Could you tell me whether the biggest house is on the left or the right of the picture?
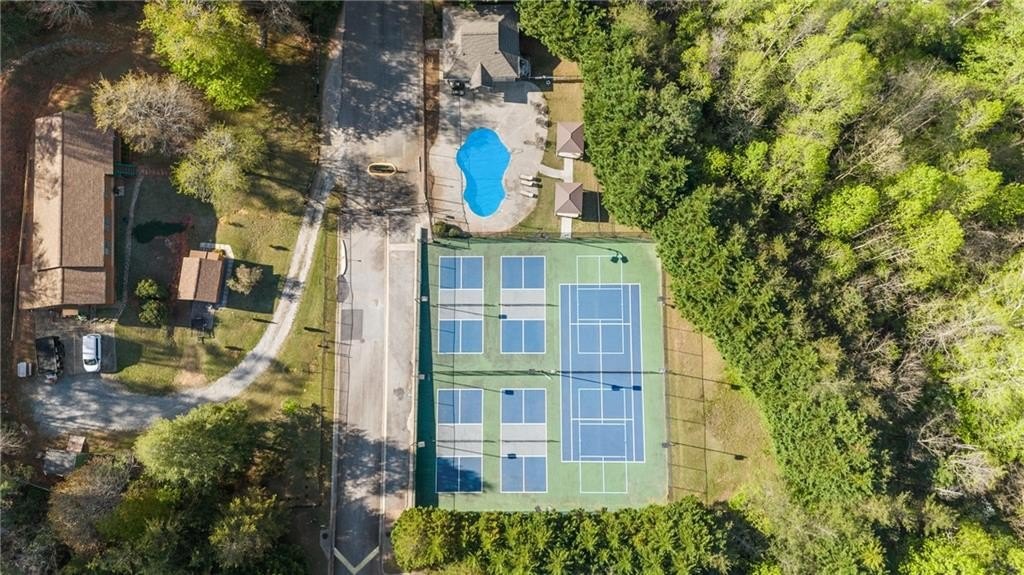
left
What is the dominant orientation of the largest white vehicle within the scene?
up and down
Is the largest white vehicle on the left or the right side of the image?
left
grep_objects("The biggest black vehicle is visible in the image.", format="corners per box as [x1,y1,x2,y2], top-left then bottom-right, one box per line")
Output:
[37,337,61,380]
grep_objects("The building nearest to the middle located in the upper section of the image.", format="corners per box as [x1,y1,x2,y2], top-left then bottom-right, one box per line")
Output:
[555,183,582,217]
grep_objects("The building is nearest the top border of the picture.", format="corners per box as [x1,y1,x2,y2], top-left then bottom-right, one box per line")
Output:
[443,6,517,96]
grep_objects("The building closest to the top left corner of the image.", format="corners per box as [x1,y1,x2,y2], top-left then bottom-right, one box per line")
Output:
[17,112,125,315]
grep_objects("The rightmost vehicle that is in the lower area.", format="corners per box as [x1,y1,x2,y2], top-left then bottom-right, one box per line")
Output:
[80,334,102,374]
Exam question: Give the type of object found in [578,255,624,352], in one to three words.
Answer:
sports court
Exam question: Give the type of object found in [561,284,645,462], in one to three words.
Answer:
tennis court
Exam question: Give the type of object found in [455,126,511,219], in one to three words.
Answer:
swimming pool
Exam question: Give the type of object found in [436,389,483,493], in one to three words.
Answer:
sports court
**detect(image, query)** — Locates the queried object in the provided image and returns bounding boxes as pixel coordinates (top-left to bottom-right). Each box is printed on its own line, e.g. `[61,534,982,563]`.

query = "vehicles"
[14,361,33,378]
[37,337,61,380]
[80,334,102,374]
